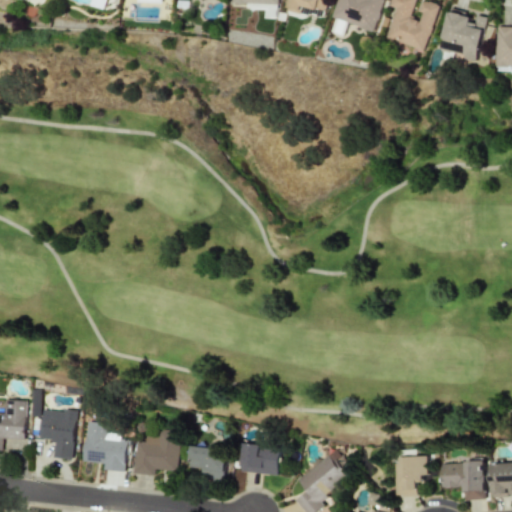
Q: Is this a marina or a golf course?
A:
golf course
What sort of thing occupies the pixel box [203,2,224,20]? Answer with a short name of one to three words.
swimming pool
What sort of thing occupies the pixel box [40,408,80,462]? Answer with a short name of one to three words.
house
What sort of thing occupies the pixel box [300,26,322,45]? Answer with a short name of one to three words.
swimming pool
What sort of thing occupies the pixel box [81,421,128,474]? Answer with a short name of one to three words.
house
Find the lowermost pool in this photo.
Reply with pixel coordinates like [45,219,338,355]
[358,490,370,508]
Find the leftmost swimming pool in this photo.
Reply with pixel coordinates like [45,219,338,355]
[11,382,30,396]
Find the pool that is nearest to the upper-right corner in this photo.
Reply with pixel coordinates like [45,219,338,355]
[431,48,443,72]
